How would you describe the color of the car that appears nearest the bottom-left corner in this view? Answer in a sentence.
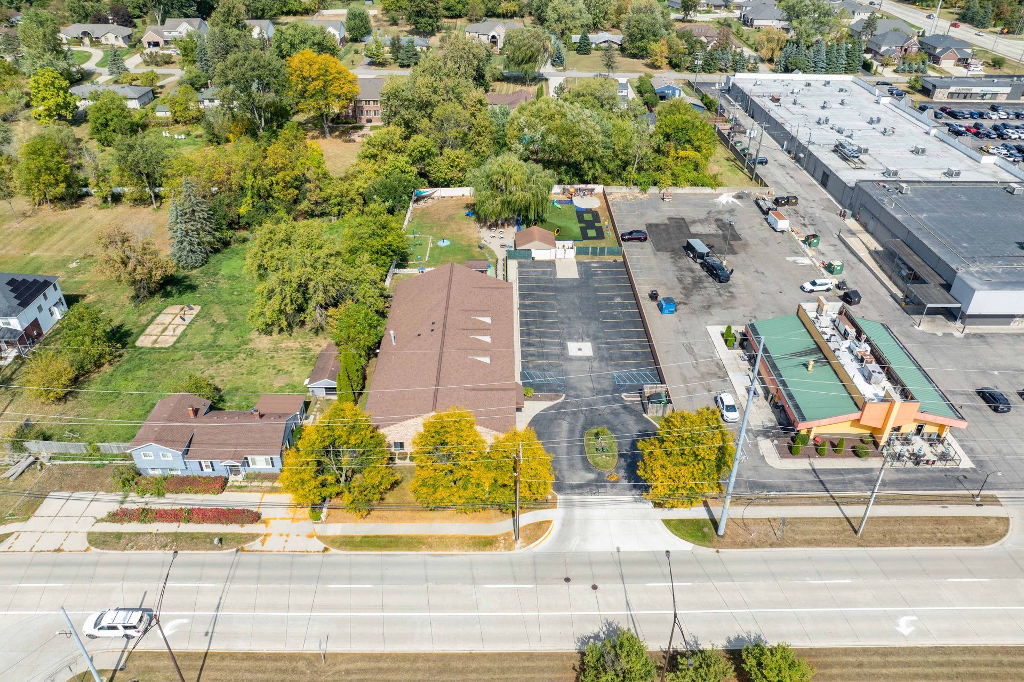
In this view, the car that appears nearest the bottom-left corner is white.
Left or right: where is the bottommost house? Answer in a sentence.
The bottommost house appears in the left half of the scene.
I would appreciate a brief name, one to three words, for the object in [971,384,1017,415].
car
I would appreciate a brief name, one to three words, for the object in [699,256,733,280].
truck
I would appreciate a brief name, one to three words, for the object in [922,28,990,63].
house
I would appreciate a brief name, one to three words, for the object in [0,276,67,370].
house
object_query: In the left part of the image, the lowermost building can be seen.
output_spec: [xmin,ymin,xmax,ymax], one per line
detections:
[127,382,305,481]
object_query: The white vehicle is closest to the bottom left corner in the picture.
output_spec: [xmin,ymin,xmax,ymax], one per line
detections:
[84,611,150,642]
